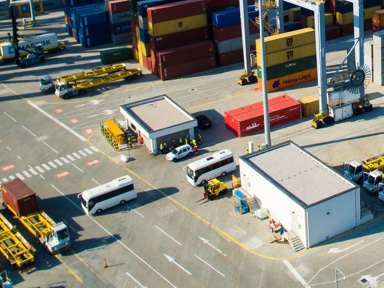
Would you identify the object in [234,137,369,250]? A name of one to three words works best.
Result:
building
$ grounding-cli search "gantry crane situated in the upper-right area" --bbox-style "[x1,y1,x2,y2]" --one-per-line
[237,0,383,129]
